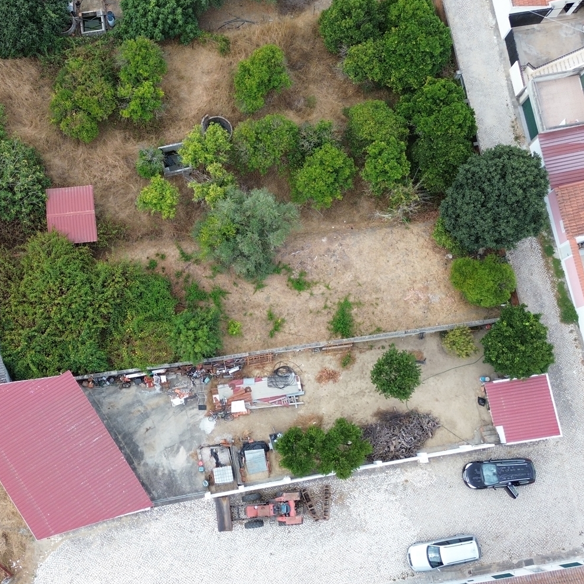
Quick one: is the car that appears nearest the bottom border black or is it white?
white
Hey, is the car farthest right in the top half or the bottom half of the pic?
bottom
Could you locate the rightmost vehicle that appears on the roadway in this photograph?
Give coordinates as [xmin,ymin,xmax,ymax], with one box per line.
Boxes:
[461,457,538,500]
